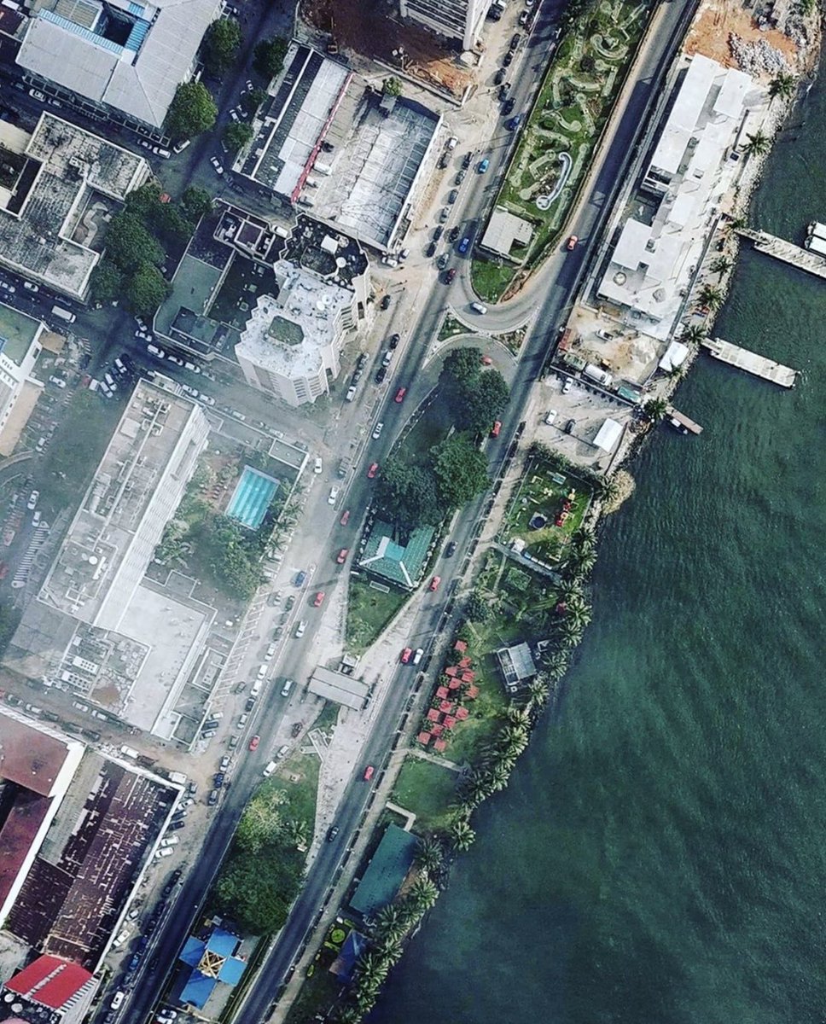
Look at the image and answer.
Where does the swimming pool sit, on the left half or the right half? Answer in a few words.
left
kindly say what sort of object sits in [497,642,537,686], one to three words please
building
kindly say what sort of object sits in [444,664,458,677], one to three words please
umbrella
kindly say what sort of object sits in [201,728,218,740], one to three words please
vehicle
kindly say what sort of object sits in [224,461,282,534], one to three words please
swimming pool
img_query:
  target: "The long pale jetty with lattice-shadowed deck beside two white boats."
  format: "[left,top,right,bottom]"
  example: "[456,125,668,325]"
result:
[734,227,826,282]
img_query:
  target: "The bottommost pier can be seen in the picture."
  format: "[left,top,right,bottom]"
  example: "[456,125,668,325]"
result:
[664,402,704,437]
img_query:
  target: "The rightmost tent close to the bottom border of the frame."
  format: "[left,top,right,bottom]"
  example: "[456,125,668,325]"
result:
[329,926,369,984]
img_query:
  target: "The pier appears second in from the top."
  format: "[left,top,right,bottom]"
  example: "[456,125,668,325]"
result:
[700,333,803,390]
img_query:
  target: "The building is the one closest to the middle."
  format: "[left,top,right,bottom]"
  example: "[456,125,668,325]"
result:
[358,519,436,589]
